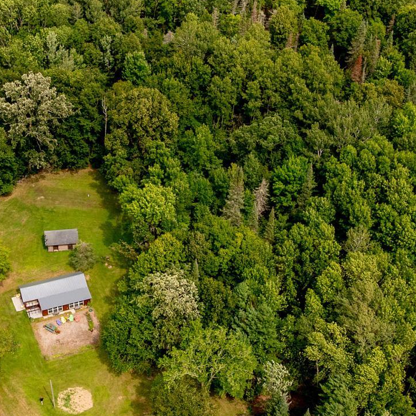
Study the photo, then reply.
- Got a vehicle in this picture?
No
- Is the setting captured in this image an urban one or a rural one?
rural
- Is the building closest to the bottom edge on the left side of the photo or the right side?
left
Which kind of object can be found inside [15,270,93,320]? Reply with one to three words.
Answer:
building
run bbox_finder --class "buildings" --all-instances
[15,270,93,320]
[43,227,76,253]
